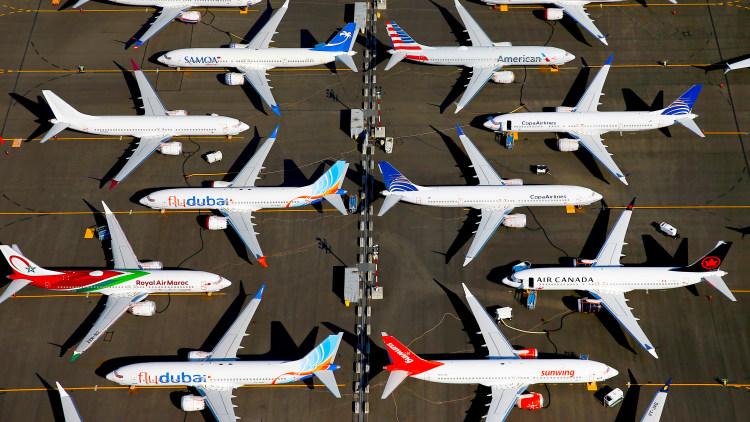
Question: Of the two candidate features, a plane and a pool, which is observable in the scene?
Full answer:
Looking from above, you can make out a plane.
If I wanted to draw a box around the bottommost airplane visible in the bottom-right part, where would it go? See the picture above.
[646,381,675,422]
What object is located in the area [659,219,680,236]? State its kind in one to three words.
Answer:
vehicle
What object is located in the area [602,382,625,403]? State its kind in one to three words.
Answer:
vehicle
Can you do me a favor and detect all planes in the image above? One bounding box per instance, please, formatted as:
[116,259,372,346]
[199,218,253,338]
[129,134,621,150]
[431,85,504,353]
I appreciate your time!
[107,284,344,422]
[483,54,704,185]
[75,0,261,49]
[724,56,750,73]
[41,59,248,188]
[0,201,230,360]
[385,0,576,113]
[382,282,620,422]
[502,197,735,358]
[485,0,627,47]
[157,0,360,114]
[139,124,349,267]
[378,123,604,267]
[646,381,675,422]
